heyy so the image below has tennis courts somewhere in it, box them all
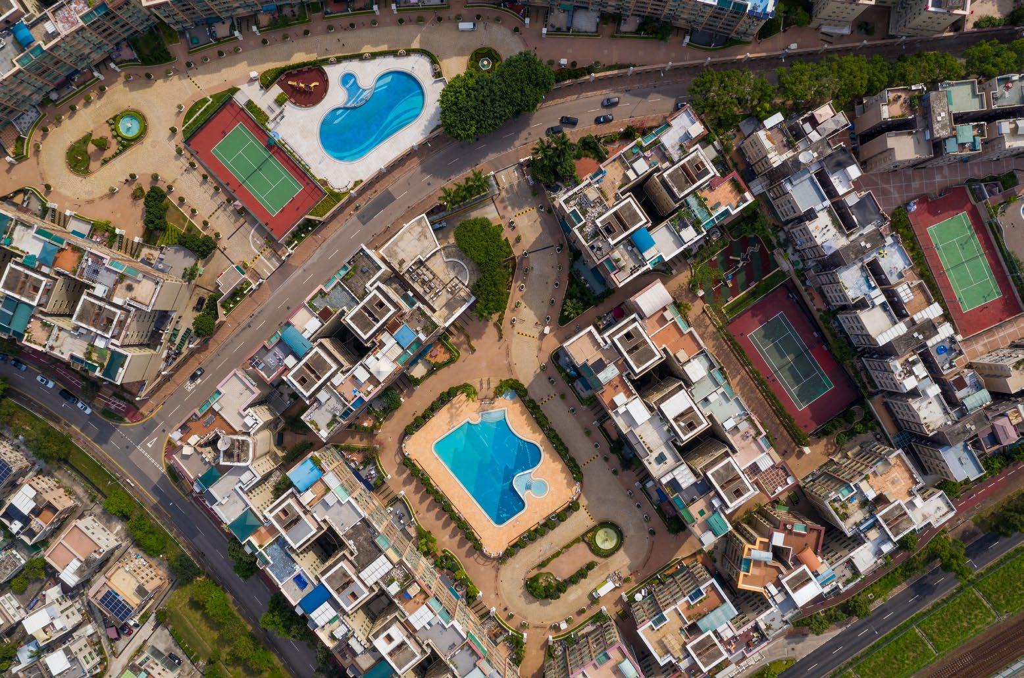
[181,94,326,239]
[728,279,865,435]
[910,184,1024,336]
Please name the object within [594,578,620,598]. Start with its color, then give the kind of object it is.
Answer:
white vehicle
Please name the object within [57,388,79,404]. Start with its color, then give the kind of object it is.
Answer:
black car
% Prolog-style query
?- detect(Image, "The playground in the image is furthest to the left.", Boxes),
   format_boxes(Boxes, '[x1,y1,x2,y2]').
[276,66,328,107]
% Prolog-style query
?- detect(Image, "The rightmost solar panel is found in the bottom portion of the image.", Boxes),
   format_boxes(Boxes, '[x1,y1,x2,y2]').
[99,590,133,622]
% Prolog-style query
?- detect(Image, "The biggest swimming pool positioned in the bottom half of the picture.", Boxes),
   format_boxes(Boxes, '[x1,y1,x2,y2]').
[402,396,583,558]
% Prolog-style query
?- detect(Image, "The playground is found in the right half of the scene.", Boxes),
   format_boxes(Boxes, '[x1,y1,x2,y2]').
[696,234,780,310]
